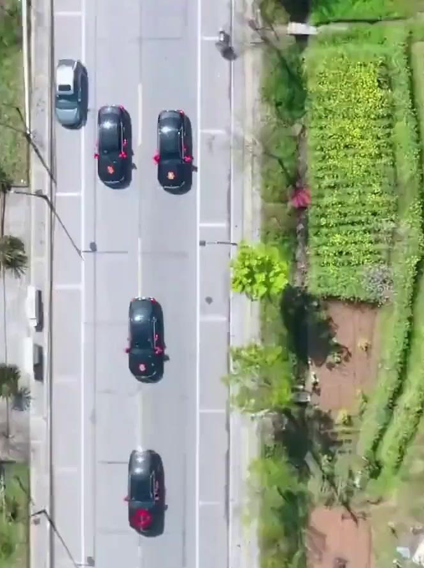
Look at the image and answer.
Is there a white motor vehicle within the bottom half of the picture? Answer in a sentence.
No, no white motor vehicle can be made out within the bottom half of the picture.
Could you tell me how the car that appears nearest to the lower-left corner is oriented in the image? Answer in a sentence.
In this picture, the car that appears nearest to the lower-left corner is oriented from top to bottom.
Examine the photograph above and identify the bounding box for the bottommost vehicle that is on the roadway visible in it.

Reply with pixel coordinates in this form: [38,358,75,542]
[123,450,159,532]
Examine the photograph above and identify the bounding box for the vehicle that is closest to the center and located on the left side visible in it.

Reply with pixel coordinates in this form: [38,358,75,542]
[123,298,159,379]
